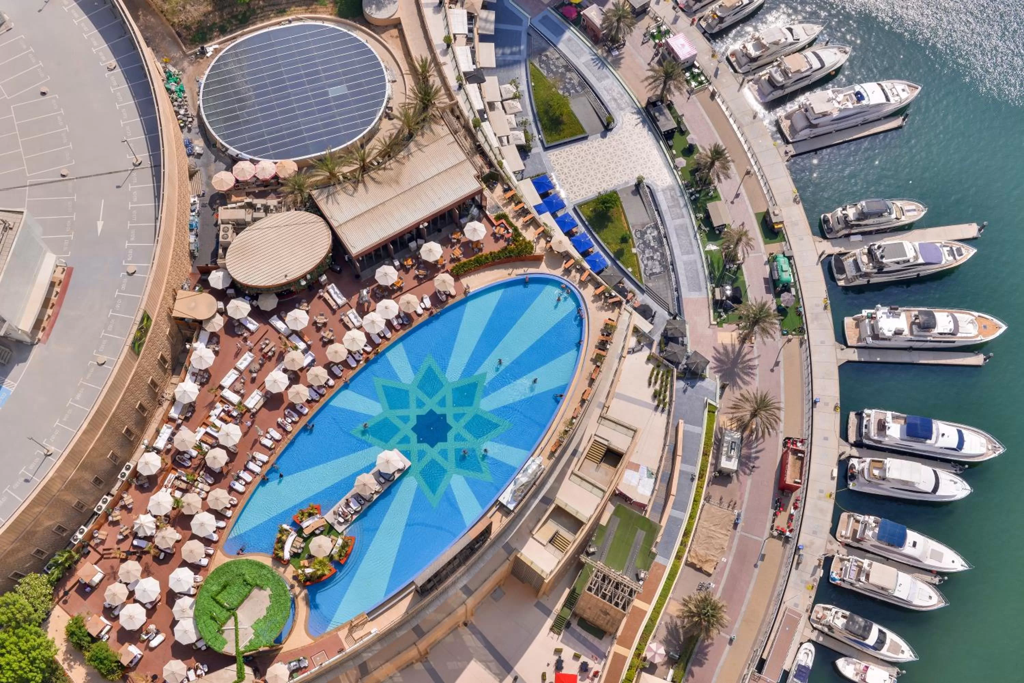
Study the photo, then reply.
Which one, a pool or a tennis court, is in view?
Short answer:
pool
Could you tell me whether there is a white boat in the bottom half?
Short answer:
Yes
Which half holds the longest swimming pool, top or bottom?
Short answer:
bottom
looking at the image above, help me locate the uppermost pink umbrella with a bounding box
[562,8,577,24]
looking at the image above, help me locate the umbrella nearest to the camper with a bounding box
[778,291,797,308]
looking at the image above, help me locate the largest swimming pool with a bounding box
[216,270,590,641]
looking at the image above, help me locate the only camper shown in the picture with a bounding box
[767,253,794,284]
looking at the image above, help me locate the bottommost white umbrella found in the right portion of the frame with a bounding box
[645,642,666,664]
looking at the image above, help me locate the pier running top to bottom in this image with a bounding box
[662,0,840,683]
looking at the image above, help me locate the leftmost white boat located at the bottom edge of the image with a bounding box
[785,643,815,683]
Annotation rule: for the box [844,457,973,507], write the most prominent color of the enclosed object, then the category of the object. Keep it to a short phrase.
white boat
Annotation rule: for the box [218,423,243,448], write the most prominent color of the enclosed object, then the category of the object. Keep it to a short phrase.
white umbrella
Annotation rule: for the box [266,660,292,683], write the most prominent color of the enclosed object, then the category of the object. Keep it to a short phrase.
white umbrella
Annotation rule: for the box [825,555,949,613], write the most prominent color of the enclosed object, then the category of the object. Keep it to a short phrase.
white boat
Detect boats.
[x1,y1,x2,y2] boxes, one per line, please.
[839,308,1009,354]
[825,555,949,613]
[834,510,974,574]
[845,411,1007,466]
[817,200,927,243]
[828,240,976,288]
[785,643,815,683]
[774,84,923,148]
[696,0,766,41]
[844,457,973,507]
[748,46,851,111]
[805,598,918,662]
[723,20,828,75]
